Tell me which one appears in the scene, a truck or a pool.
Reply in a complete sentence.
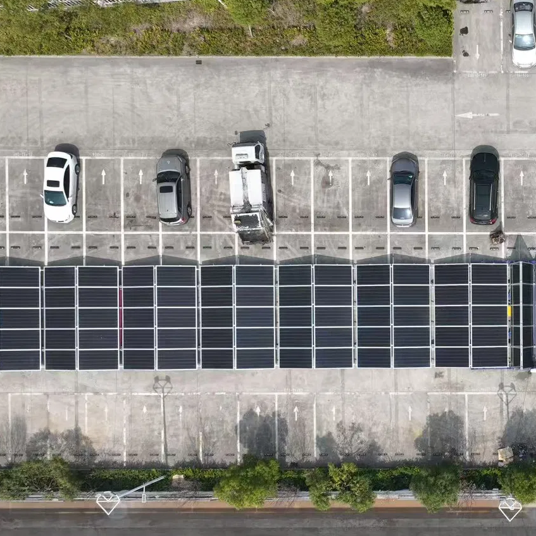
Looking from above, you can make out a truck.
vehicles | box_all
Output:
[506,0,536,69]
[465,152,502,225]
[385,157,420,229]
[40,149,81,223]
[228,135,273,243]
[153,153,193,225]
